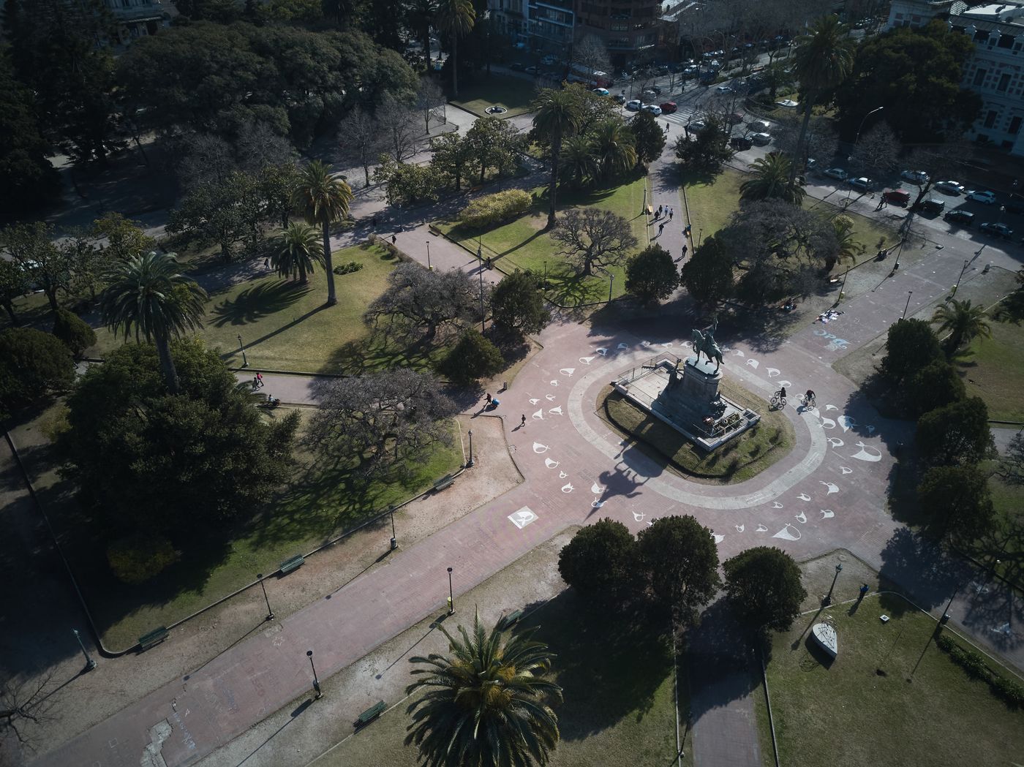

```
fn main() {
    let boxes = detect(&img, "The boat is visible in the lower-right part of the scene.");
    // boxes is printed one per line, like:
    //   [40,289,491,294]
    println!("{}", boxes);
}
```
[812,623,838,656]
